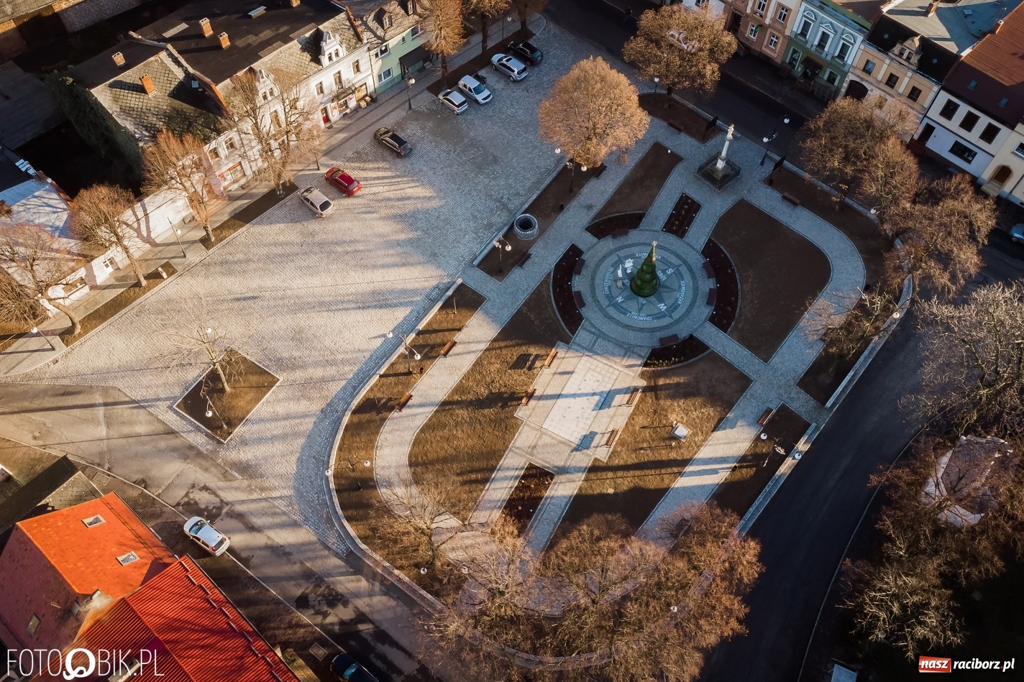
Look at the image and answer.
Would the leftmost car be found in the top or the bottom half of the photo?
bottom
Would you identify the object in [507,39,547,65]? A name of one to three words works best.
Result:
car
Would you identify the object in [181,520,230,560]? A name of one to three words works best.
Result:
car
